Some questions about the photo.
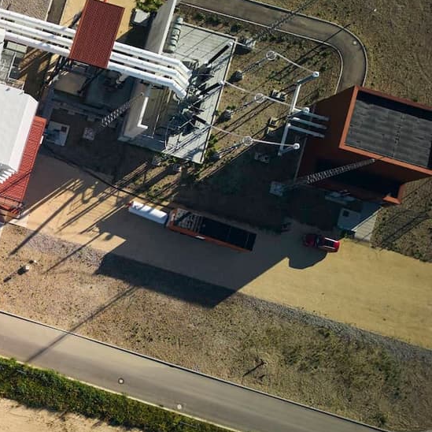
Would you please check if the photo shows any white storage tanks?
No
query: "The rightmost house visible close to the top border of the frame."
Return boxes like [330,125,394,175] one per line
[38,0,126,93]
